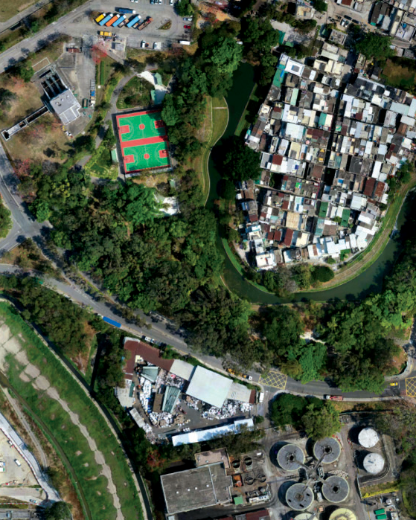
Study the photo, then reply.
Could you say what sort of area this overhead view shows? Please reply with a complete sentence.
What you see here is a residential area.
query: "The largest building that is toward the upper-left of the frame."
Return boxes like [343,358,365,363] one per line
[50,88,82,124]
